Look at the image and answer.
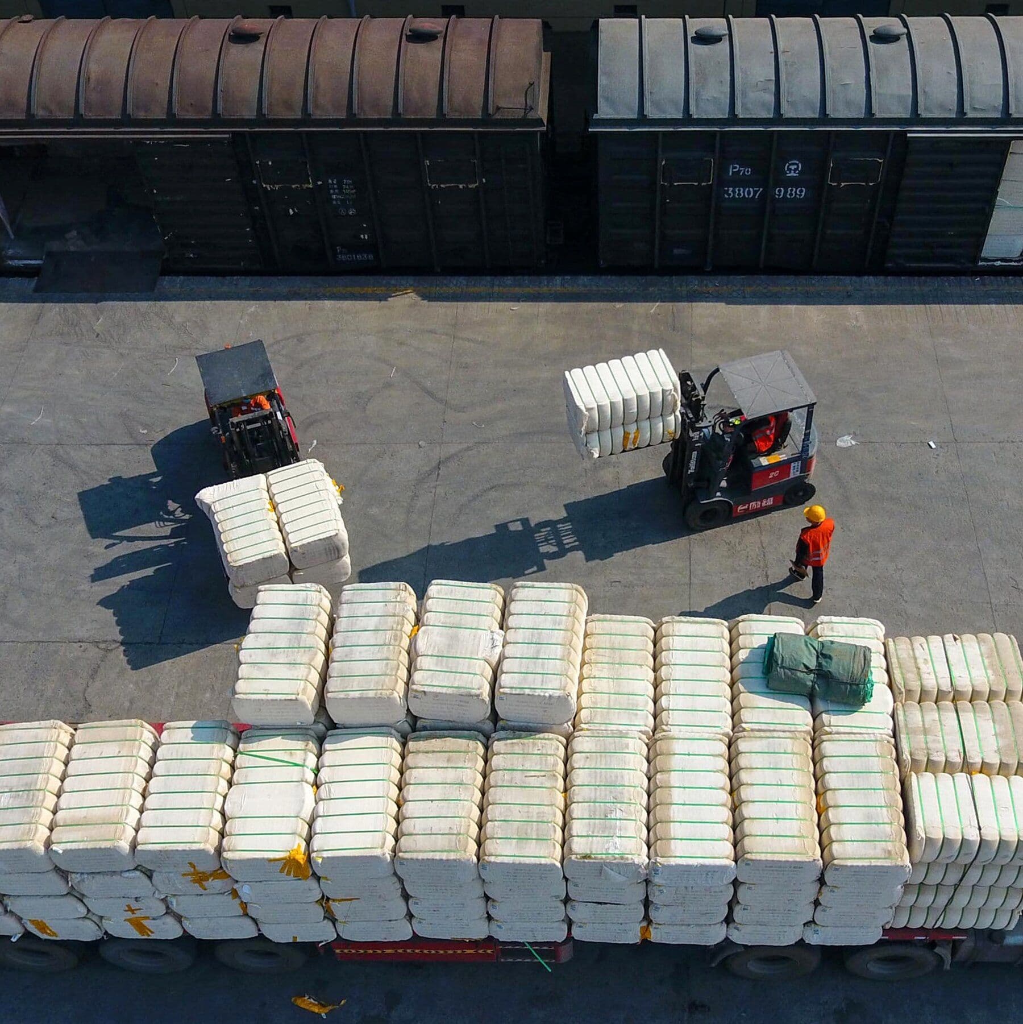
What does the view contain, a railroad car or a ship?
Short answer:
railroad car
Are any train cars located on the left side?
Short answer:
Yes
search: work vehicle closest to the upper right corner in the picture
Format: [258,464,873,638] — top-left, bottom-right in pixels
[661,346,823,530]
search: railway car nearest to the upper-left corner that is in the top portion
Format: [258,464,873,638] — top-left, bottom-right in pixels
[0,8,597,276]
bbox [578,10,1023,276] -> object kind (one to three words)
rail car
